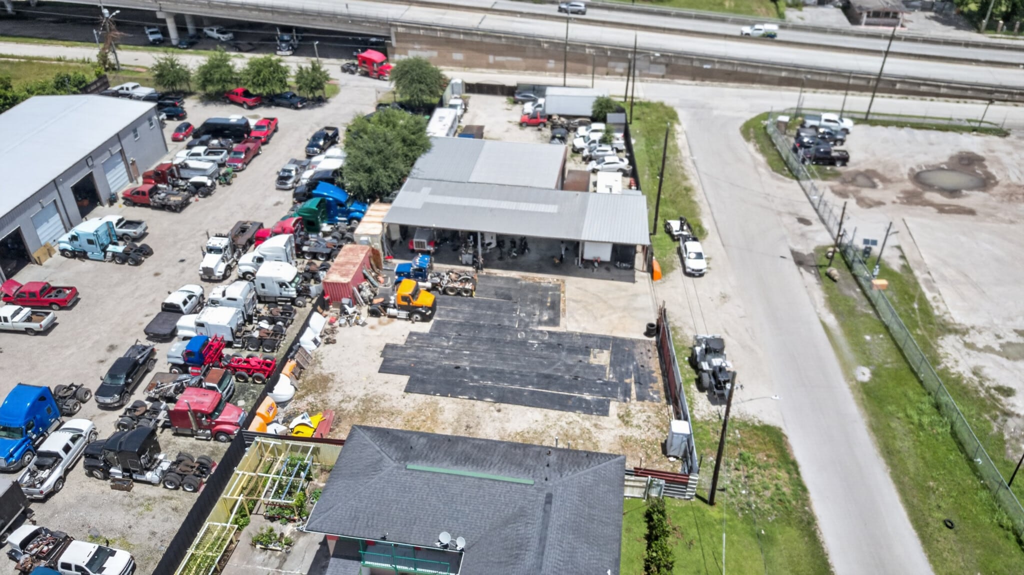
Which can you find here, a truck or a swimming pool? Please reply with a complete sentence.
Visible in the photo is a truck.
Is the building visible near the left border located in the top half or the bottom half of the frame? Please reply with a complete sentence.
The top half of the photo is where the building visible near the left border is.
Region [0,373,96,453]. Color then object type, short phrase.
blue truck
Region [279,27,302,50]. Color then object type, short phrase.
black truck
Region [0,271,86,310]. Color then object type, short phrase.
red truck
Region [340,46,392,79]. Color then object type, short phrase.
red truck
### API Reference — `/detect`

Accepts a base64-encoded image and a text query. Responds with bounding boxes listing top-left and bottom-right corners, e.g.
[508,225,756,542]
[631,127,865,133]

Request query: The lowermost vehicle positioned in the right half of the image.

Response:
[686,323,743,392]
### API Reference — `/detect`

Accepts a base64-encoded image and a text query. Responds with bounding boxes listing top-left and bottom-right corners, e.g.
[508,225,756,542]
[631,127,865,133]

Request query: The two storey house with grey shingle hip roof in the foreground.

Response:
[302,424,628,575]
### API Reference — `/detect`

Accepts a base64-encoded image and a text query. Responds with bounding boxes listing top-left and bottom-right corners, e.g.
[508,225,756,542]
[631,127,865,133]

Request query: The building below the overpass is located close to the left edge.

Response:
[0,93,168,278]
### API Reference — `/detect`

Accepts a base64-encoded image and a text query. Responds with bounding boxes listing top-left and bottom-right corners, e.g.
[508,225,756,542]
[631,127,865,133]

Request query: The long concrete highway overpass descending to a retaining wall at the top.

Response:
[0,0,1024,102]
